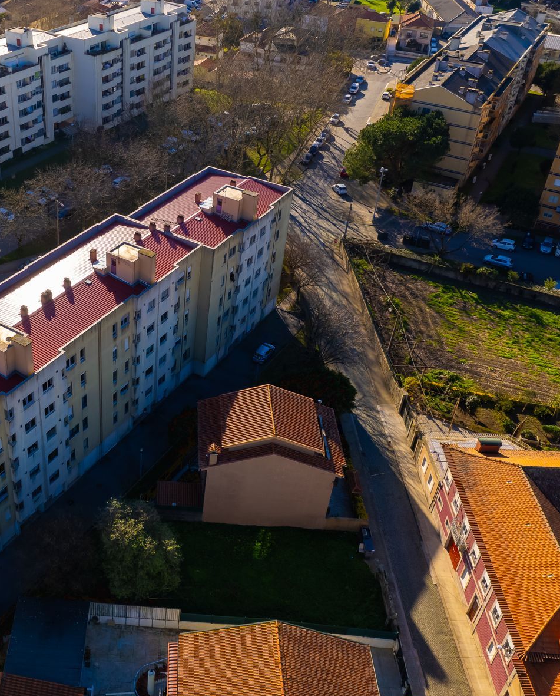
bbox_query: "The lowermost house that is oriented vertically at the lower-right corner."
[432,458,560,696]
